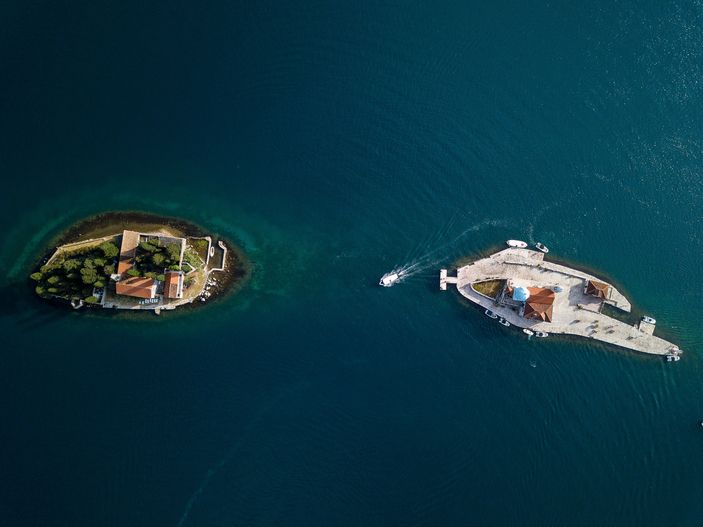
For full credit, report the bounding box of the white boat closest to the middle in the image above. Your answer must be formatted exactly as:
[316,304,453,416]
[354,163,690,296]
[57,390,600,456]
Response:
[380,272,400,285]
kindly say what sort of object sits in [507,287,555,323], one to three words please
building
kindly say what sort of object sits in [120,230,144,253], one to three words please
house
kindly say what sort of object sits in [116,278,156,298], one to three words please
house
